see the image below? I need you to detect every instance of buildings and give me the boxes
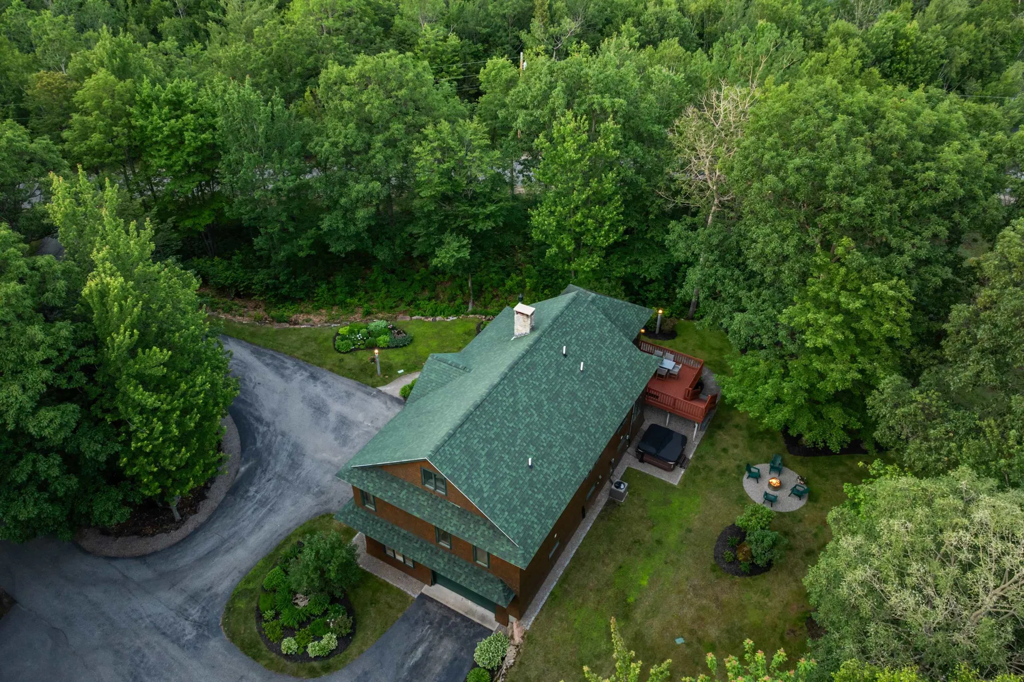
[333,283,660,626]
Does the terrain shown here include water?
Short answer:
No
